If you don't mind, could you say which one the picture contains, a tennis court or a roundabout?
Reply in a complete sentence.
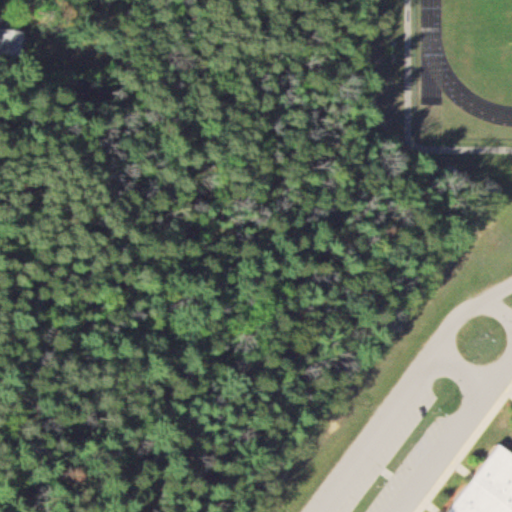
This aerial view contains a roundabout.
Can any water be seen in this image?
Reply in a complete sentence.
No, water can't be seen anywhere here.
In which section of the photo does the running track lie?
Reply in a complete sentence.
The running track is in the top right part of the image.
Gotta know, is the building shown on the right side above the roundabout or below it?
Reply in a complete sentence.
Within the scene, the building shown on the right side can be found below the roundabout.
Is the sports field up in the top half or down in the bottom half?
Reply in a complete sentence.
Seen from above, the sports field lies in the top half of the view.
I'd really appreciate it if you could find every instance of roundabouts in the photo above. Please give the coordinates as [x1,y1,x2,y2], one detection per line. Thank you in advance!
[456,316,507,365]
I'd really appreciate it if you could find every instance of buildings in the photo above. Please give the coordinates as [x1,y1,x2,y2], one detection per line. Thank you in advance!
[0,30,26,56]
[448,443,512,512]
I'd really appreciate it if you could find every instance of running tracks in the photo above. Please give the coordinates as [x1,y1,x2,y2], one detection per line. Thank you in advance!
[420,0,512,127]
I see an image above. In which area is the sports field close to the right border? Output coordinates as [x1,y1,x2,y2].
[442,0,512,107]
